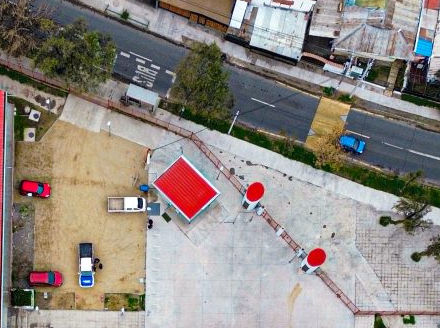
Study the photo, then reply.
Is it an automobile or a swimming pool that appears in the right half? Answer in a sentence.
What appears in the right half is an automobile.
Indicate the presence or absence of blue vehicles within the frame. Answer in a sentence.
Yes, you can see a blue vehicle in this photo.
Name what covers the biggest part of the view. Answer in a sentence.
Most of the picture is covered by paved ground.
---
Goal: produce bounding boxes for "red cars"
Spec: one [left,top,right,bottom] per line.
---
[29,269,63,287]
[19,180,51,199]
